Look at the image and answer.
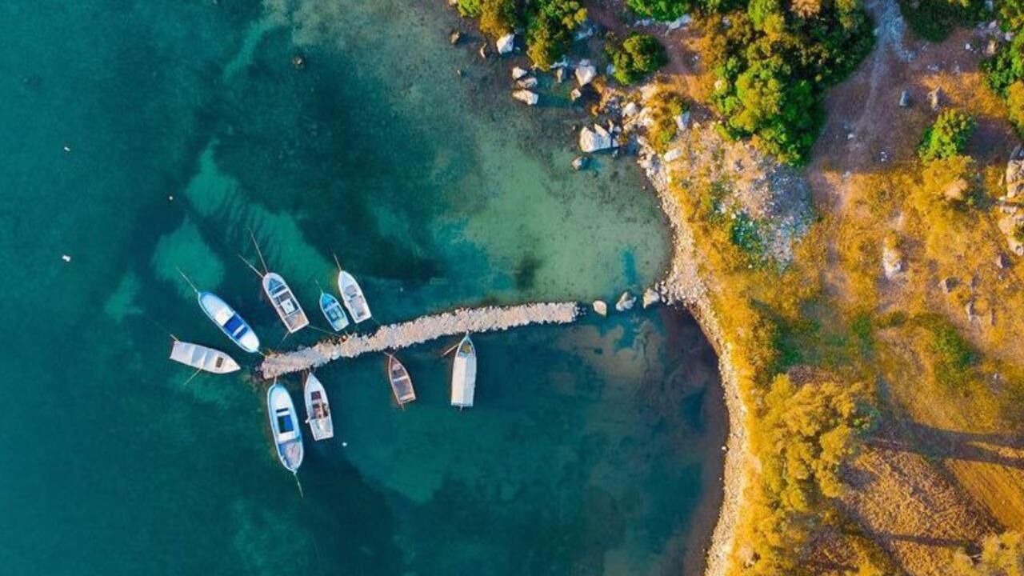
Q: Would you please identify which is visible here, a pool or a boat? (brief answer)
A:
boat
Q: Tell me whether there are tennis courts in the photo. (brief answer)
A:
No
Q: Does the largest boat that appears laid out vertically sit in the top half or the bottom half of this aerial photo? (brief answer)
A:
bottom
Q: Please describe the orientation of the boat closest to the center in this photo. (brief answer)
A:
vertically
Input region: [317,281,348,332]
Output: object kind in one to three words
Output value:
boat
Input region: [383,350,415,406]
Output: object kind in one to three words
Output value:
boat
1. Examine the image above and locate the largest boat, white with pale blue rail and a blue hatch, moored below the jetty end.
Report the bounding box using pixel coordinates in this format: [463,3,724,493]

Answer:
[266,373,305,497]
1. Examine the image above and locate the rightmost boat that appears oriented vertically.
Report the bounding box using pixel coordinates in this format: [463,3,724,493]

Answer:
[451,335,476,410]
